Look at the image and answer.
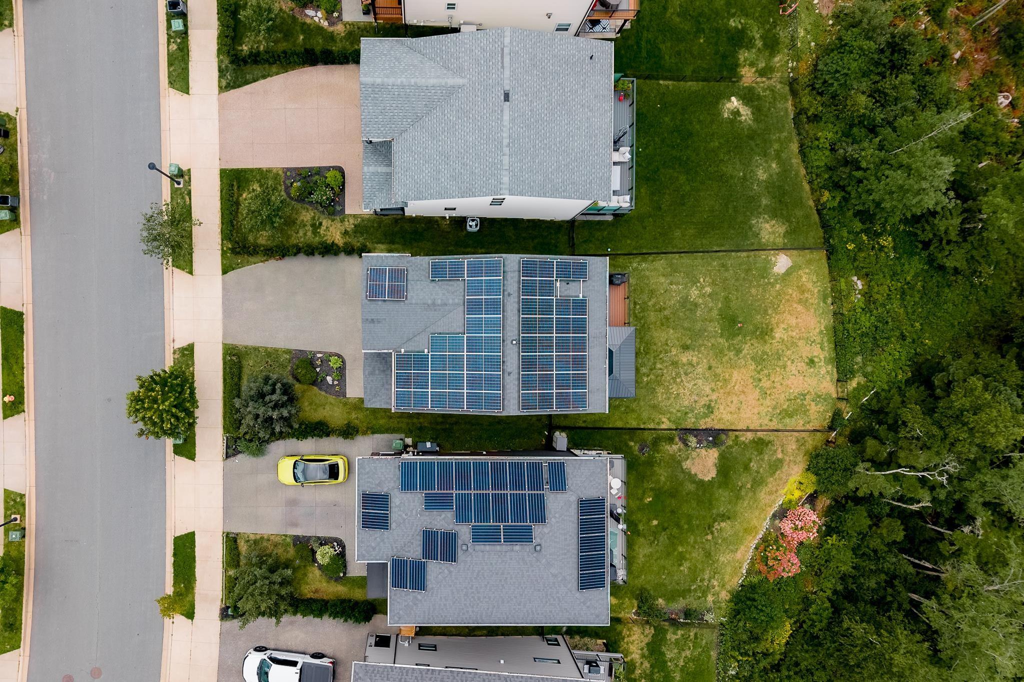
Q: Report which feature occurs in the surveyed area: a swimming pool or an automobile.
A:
automobile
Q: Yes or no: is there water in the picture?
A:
No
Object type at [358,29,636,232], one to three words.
house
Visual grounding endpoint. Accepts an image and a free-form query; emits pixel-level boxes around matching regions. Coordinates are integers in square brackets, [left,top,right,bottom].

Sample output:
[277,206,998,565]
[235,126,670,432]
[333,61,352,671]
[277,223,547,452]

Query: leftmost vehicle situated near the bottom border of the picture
[241,643,335,682]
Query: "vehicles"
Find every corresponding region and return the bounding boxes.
[278,453,349,487]
[241,643,335,682]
